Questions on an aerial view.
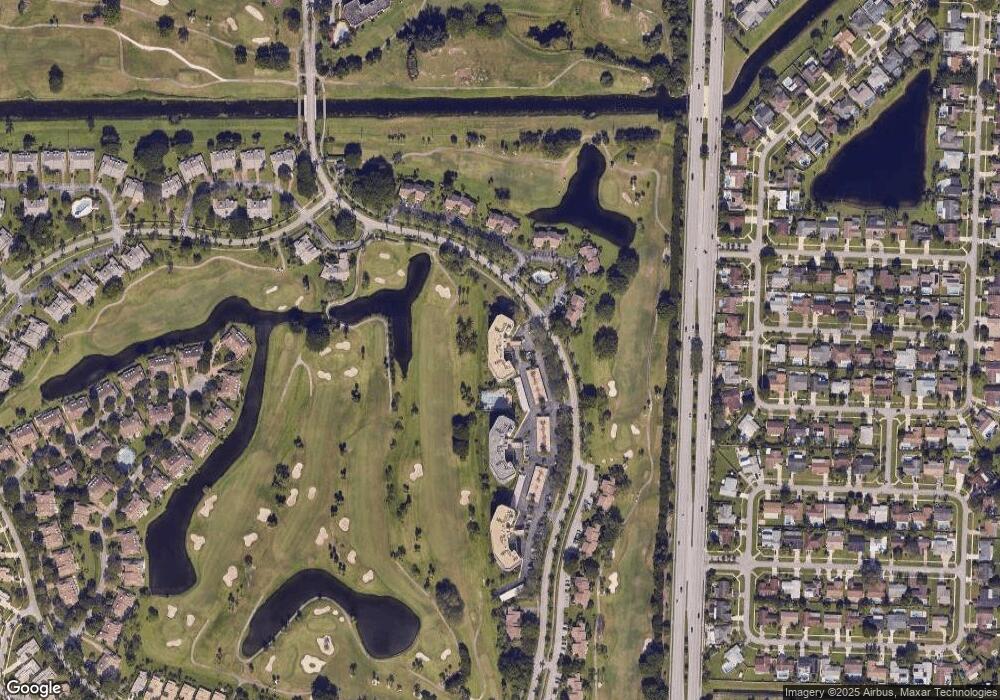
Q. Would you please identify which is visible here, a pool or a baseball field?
pool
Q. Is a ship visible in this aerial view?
No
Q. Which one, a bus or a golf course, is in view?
golf course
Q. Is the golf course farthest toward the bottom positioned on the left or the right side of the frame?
left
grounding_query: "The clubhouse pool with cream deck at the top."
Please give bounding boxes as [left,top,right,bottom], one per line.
[333,21,350,44]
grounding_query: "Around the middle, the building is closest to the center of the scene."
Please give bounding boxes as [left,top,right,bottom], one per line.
[485,312,522,381]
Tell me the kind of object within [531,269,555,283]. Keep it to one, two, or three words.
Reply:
swimming pool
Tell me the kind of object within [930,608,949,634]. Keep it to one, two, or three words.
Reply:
house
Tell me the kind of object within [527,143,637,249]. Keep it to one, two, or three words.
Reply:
pond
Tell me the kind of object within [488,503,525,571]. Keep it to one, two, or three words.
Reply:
building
